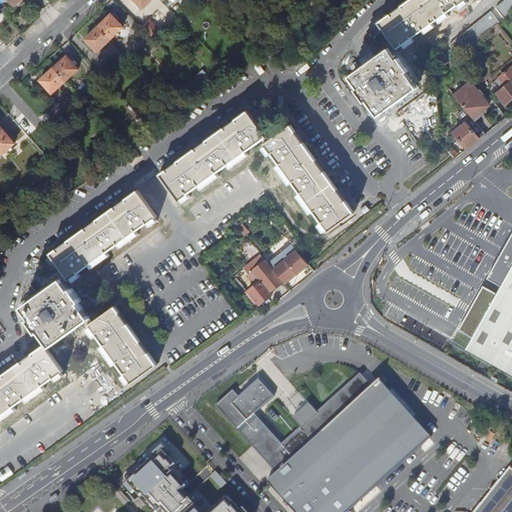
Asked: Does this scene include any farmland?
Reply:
No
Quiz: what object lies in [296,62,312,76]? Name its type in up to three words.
vehicle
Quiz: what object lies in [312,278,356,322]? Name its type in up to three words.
roundabout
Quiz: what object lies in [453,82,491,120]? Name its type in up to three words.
house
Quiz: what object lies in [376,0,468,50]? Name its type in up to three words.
building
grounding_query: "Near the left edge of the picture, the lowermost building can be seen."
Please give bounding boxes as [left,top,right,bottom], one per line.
[0,346,66,420]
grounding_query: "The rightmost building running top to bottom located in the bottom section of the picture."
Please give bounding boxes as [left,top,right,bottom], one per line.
[466,262,512,375]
